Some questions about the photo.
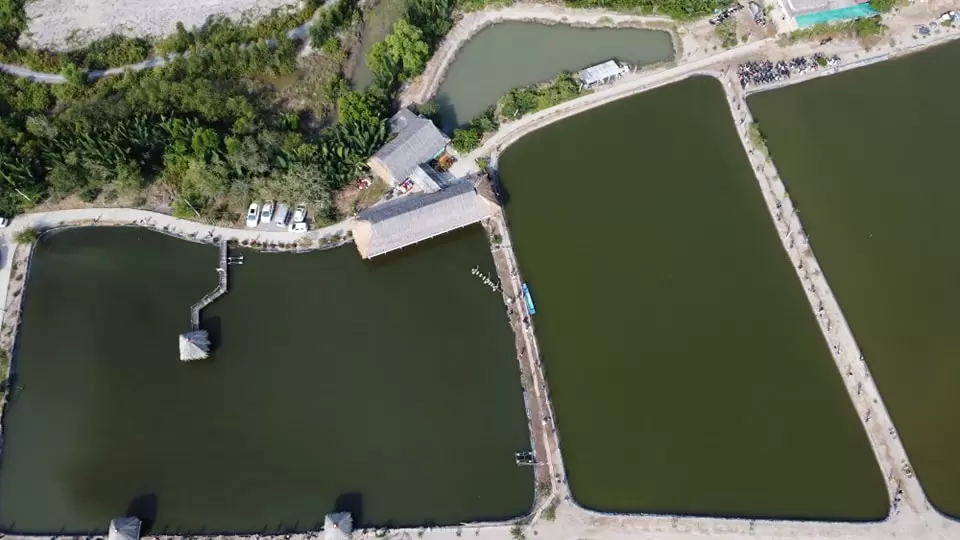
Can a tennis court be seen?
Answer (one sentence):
No, there appears to be no tennis court in this shot.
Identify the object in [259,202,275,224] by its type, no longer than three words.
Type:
car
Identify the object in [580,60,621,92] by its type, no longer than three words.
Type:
shed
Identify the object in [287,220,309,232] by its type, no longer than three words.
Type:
vehicle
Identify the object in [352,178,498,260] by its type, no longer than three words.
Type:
building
